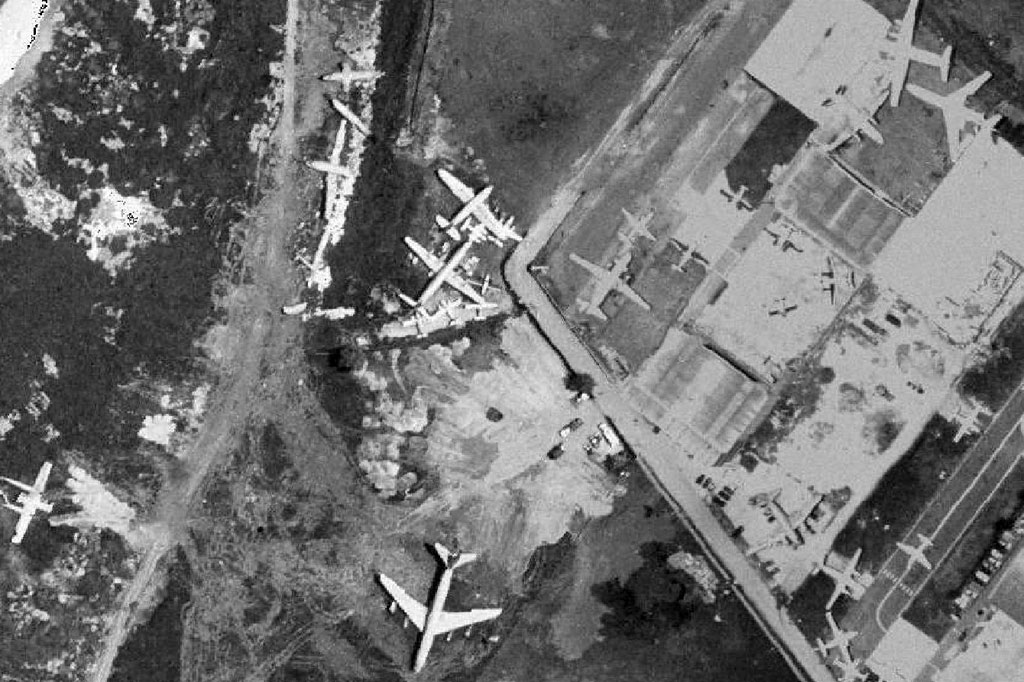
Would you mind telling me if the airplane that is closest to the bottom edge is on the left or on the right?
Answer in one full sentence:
You can find the airplane that is closest to the bottom edge on the right side of the picture.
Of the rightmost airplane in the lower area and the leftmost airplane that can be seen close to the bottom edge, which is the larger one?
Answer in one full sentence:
The leftmost airplane that can be seen close to the bottom edge is bigger than the rightmost airplane in the lower area.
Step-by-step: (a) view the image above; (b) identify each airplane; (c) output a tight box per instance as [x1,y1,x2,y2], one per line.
[815,548,870,611]
[908,72,1004,161]
[436,168,524,241]
[768,297,798,318]
[720,184,754,212]
[398,236,486,307]
[616,207,657,248]
[380,543,502,672]
[828,89,891,151]
[671,237,711,275]
[950,397,994,442]
[872,0,955,105]
[834,652,871,682]
[764,222,804,254]
[323,62,384,93]
[815,612,859,665]
[748,487,826,556]
[12,461,54,542]
[570,251,651,321]
[815,257,857,305]
[897,534,935,570]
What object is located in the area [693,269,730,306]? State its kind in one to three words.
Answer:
shed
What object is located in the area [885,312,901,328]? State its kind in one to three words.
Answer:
vehicle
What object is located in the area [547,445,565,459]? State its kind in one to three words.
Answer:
vehicle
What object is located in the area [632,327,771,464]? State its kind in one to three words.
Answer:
hangar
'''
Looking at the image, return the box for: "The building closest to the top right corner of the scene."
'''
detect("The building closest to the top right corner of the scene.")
[780,150,910,272]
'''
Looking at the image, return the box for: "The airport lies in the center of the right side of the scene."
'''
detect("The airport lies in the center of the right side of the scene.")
[665,0,1024,682]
